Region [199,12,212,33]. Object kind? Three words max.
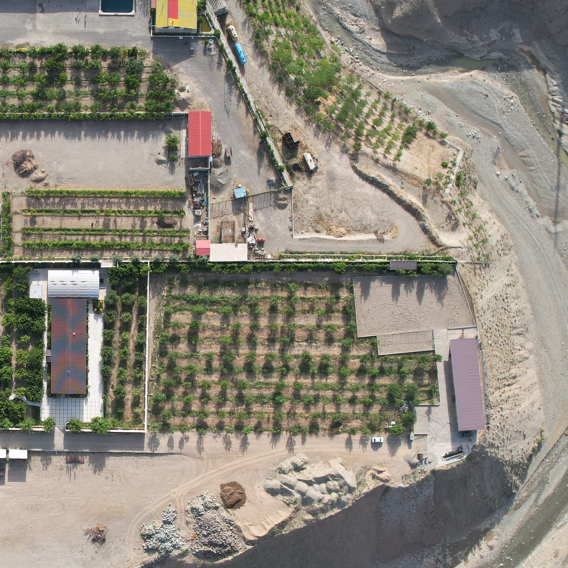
swimming pool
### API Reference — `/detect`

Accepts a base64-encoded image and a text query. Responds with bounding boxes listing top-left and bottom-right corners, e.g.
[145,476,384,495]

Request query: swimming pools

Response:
[99,0,135,16]
[199,12,212,33]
